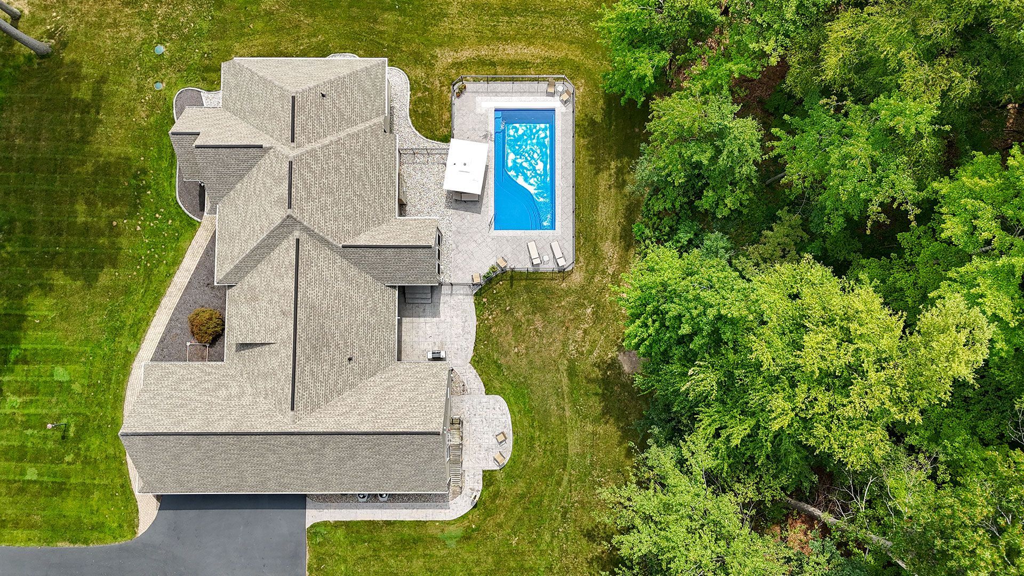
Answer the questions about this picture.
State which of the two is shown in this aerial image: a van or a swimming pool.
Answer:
swimming pool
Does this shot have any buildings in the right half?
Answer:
No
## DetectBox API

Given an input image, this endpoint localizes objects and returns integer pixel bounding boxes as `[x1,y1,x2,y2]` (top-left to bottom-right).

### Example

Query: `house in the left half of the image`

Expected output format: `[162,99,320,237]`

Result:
[119,57,454,497]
